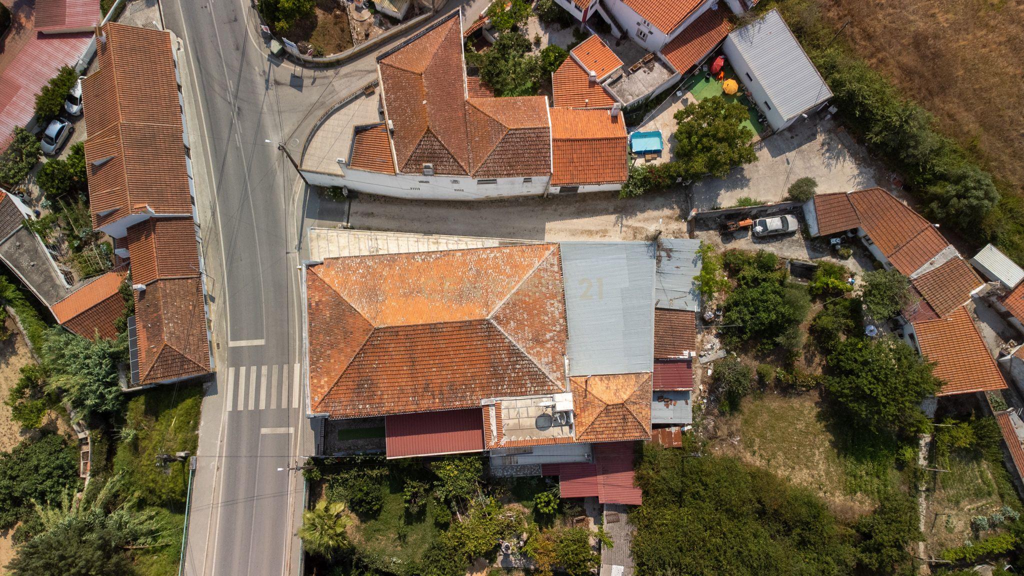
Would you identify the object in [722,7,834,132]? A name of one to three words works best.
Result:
warehouse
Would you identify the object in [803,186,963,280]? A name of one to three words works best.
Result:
house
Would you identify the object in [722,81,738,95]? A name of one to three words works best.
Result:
umbrella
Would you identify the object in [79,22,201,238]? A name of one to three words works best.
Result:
house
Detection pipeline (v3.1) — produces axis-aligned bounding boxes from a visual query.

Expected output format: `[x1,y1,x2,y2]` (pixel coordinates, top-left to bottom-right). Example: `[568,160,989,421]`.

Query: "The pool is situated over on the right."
[629,130,664,157]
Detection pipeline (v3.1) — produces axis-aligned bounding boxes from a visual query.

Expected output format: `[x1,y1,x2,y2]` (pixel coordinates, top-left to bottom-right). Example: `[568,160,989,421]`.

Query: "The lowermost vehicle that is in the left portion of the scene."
[39,117,78,157]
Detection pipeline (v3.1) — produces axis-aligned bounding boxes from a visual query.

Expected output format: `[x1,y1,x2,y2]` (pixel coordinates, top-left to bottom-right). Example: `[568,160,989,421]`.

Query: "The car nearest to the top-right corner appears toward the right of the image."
[750,213,799,239]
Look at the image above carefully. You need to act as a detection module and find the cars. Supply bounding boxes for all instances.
[750,213,799,239]
[39,117,78,157]
[64,76,84,118]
